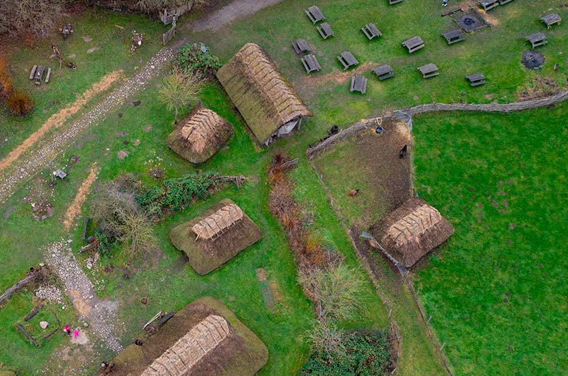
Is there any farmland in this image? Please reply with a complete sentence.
Yes, the picture does contain farmland.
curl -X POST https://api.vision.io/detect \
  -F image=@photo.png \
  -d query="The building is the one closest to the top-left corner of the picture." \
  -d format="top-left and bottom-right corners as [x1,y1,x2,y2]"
[167,102,235,167]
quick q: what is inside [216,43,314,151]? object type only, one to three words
building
